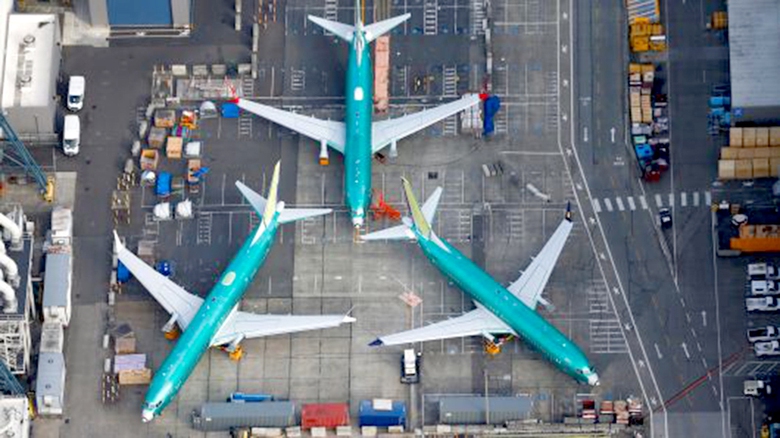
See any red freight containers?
Yes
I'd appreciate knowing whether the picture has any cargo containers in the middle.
No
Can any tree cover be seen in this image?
No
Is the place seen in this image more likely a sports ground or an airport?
airport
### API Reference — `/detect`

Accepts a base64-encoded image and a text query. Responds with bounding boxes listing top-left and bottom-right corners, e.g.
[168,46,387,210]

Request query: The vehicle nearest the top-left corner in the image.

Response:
[66,76,84,109]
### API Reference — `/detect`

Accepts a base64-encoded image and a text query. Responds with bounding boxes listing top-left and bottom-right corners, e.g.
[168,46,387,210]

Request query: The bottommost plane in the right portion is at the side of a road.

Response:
[366,178,598,385]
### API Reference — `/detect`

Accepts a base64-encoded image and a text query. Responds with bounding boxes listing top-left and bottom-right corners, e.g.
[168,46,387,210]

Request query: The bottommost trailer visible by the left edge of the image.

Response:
[34,353,69,413]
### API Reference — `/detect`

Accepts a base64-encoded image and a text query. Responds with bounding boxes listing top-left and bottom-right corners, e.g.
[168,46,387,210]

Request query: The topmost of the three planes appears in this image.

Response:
[229,0,488,228]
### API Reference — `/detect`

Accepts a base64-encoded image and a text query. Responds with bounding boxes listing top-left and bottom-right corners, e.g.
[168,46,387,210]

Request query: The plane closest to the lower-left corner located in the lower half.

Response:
[110,160,359,420]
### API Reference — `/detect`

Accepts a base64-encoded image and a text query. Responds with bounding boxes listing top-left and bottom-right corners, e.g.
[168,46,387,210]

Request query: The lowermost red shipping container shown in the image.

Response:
[302,402,350,427]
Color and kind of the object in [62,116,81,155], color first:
white vehicle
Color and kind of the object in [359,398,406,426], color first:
blue shipping container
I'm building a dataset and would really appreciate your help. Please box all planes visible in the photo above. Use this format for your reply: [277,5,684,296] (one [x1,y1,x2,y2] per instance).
[110,160,359,420]
[366,178,598,385]
[229,0,488,228]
